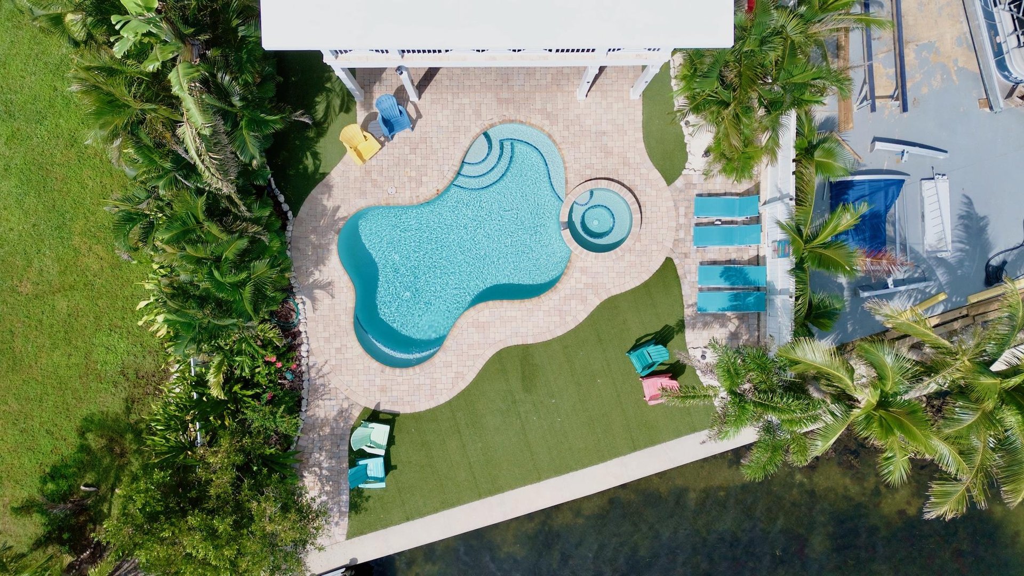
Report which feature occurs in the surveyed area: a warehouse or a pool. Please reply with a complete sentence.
The image shows a pool.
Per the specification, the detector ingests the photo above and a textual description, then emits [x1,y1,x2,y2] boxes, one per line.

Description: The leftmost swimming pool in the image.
[328,114,581,377]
